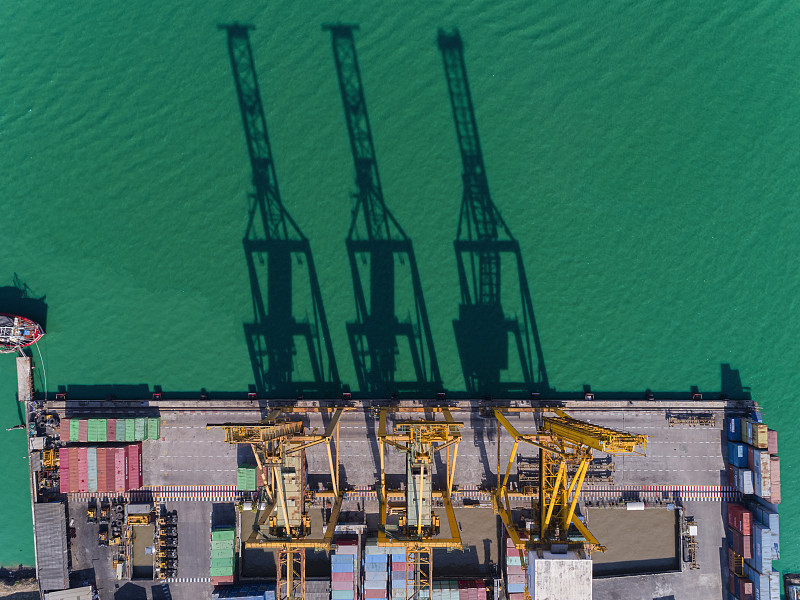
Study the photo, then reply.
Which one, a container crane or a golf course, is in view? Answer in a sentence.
This aerial view contains a container crane.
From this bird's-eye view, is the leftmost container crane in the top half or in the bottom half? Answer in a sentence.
Seen from above, the leftmost container crane lies in the bottom half of the view.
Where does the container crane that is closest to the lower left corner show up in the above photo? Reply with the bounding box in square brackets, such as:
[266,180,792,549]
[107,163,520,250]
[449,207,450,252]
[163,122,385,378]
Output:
[205,408,363,600]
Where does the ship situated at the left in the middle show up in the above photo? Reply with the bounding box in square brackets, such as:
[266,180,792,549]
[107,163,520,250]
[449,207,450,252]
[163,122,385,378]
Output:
[0,312,45,352]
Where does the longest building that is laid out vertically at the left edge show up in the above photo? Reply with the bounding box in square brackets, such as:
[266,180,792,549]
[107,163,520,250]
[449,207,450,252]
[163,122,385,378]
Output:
[34,498,72,591]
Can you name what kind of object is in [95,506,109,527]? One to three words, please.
work vehicle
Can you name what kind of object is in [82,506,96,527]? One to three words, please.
work vehicle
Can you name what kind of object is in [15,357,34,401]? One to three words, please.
pier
